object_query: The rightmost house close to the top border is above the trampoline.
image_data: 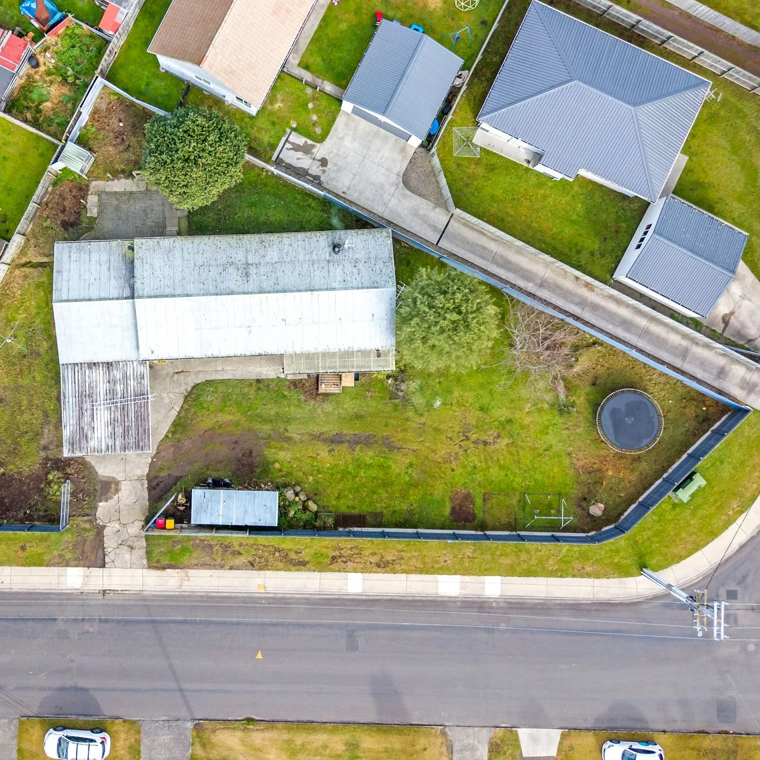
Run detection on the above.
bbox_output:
[477,0,713,203]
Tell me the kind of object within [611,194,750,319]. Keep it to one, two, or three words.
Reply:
building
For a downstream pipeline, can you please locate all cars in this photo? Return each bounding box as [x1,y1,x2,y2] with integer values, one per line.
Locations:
[44,726,112,760]
[598,737,666,760]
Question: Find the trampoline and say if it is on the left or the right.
right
